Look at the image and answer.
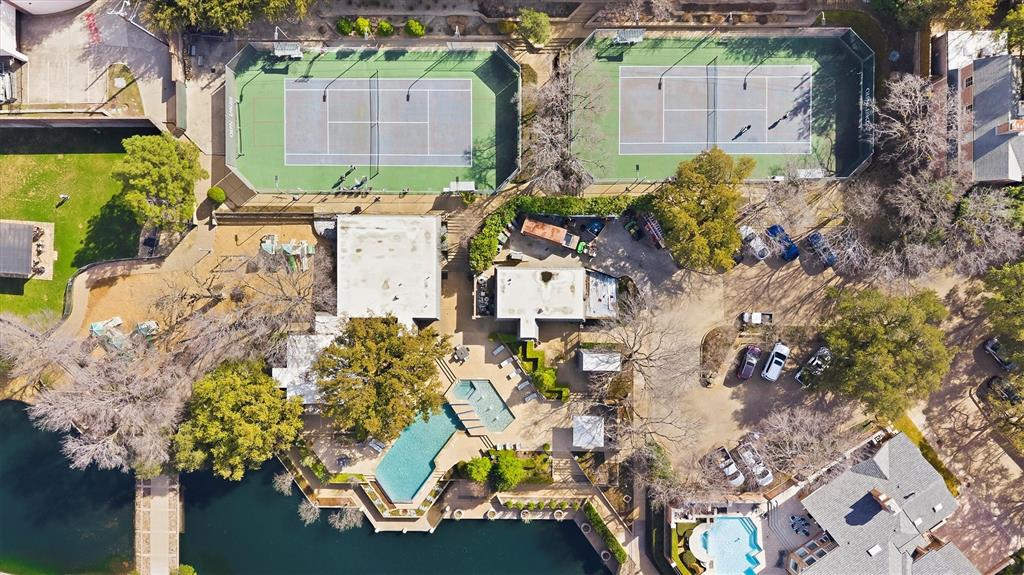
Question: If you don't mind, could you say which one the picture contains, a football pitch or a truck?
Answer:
truck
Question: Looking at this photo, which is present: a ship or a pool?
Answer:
pool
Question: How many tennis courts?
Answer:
2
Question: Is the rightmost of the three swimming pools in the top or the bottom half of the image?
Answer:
bottom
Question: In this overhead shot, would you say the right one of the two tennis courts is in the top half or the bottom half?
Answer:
top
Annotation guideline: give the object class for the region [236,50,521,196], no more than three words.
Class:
tennis court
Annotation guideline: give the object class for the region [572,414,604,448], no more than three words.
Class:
building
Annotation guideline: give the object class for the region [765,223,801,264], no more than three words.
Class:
car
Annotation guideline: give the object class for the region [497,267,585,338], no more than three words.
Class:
building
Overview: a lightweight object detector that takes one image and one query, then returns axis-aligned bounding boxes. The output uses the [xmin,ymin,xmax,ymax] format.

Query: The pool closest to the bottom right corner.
[690,513,768,575]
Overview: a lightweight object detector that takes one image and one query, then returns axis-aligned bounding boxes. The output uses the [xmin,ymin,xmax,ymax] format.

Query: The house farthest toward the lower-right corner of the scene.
[783,432,980,575]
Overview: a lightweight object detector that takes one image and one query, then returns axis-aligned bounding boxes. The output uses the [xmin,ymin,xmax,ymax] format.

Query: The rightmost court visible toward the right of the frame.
[568,37,862,187]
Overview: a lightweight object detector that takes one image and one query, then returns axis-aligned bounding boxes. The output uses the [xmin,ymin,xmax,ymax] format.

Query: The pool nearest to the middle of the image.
[451,378,518,435]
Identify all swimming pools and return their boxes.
[373,359,493,505]
[690,513,768,575]
[451,378,518,435]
